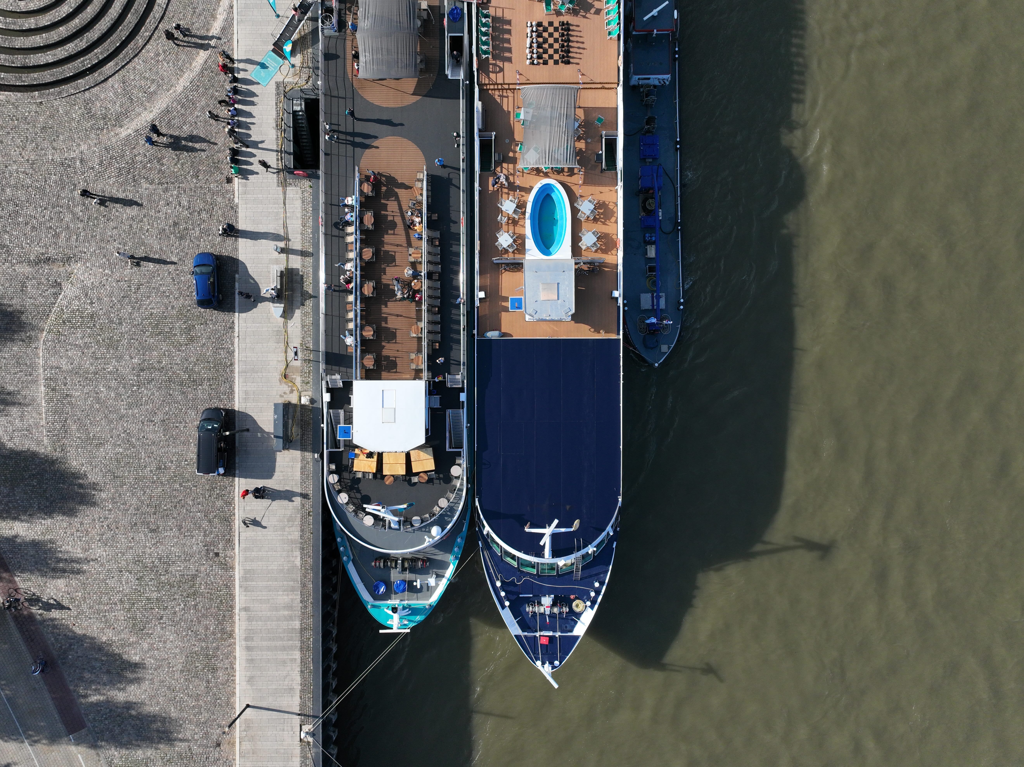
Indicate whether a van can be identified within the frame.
Yes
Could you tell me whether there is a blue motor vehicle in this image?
Yes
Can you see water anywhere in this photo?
Yes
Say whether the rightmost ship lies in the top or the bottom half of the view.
top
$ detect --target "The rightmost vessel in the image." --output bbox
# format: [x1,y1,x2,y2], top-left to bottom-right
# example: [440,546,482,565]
[623,0,685,367]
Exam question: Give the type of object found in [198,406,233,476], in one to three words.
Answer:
van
